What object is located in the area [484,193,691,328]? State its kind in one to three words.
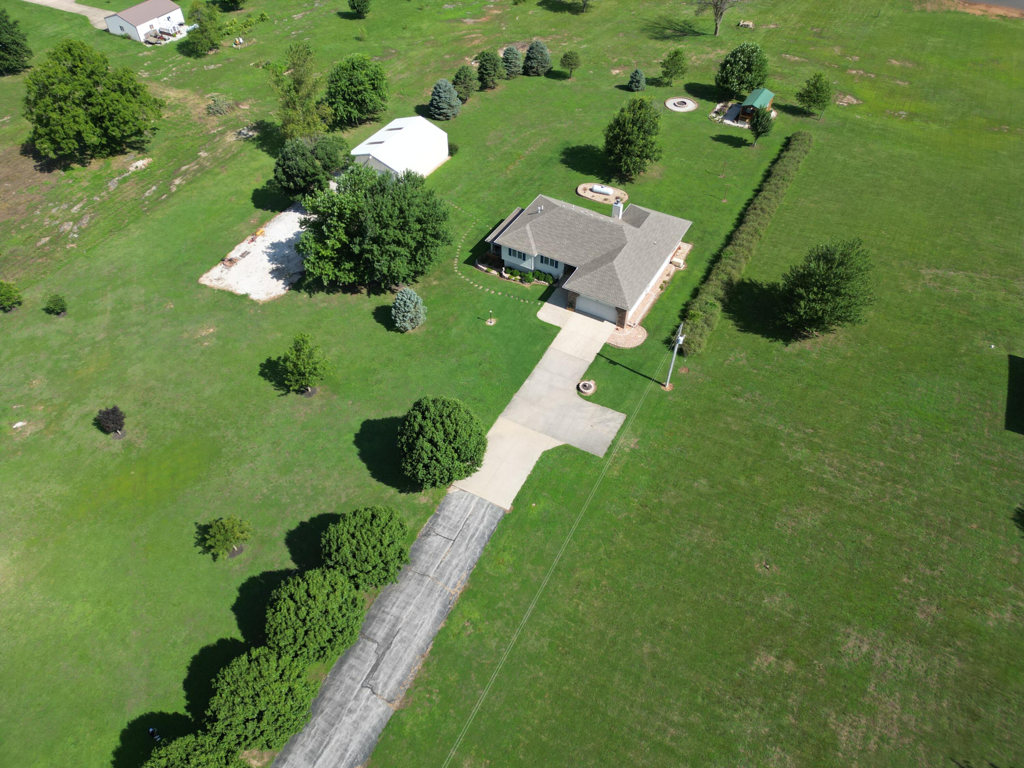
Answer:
house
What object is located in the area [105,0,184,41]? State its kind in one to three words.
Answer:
shed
